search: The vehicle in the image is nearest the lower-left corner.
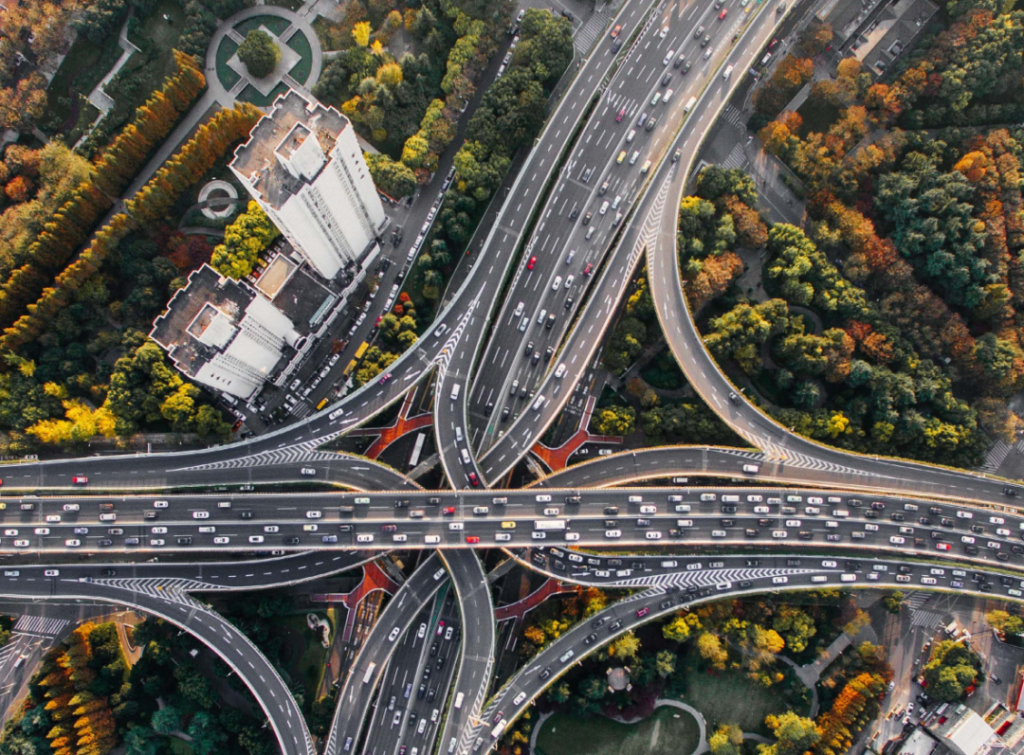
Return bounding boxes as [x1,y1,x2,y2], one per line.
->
[13,653,28,669]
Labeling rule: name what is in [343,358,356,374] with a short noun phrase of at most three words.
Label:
vehicle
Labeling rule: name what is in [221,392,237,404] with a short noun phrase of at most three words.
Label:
vehicle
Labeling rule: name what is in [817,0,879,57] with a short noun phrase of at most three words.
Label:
building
